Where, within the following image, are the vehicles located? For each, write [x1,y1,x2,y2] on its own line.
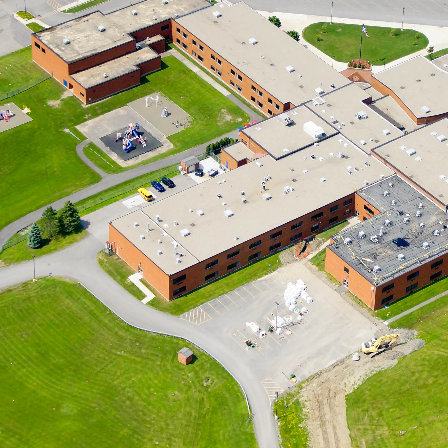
[358,330,404,359]
[136,187,154,200]
[150,181,166,192]
[159,175,177,187]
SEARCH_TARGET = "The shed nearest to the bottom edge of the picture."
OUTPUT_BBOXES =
[174,345,196,366]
